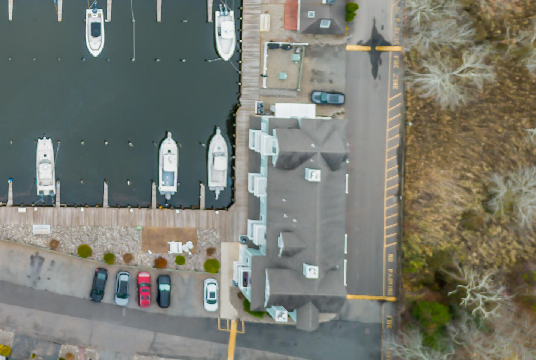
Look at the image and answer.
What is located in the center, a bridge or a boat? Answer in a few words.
boat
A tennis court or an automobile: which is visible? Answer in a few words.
automobile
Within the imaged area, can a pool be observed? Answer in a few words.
No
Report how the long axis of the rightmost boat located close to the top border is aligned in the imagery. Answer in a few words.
up and down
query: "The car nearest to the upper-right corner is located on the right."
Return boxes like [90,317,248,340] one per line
[311,90,346,105]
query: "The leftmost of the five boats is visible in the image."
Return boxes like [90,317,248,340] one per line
[36,134,55,204]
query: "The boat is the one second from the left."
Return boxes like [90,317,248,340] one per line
[86,2,104,57]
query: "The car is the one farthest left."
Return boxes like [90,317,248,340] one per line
[90,268,108,303]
